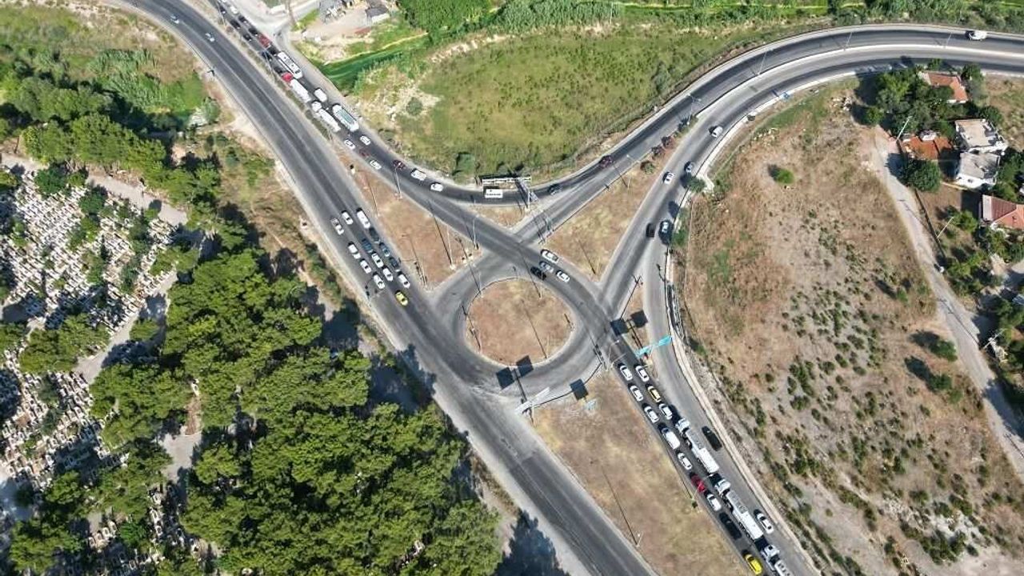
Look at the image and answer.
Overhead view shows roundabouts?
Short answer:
Yes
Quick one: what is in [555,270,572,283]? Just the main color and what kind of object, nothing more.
white vehicle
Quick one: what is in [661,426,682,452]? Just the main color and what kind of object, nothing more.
white vehicle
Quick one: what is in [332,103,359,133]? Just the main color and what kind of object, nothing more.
white bus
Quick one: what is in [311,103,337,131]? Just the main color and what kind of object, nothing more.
white truck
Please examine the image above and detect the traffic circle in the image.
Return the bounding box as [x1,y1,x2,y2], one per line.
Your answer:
[437,257,603,394]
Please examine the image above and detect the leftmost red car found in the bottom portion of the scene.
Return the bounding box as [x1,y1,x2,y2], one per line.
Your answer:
[688,471,706,493]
